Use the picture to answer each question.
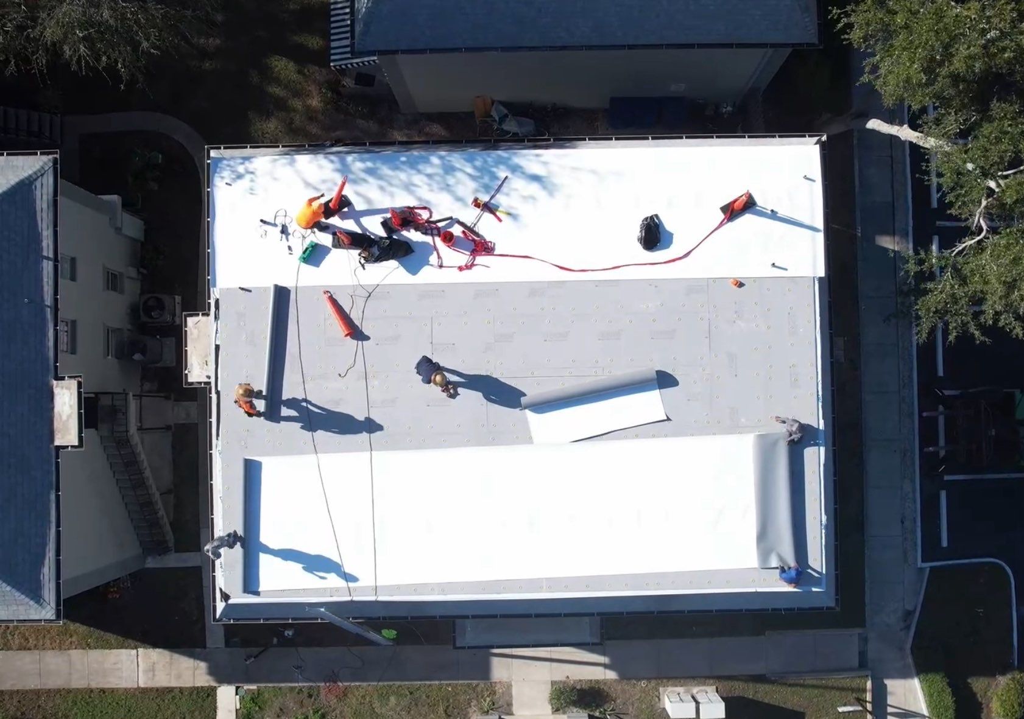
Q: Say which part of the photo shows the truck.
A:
right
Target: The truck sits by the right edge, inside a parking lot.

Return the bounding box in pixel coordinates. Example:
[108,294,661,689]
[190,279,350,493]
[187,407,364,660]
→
[922,389,1024,474]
